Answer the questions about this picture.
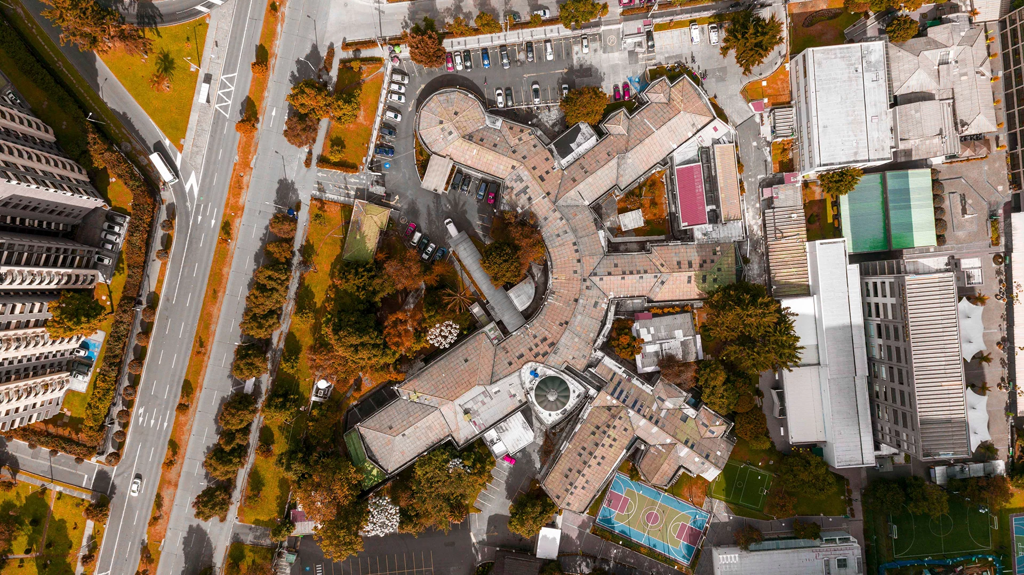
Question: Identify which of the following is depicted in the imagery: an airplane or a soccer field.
soccer field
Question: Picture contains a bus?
Yes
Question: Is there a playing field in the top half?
No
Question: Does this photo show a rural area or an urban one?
urban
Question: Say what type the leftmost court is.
basketball court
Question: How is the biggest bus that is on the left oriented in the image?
diagonally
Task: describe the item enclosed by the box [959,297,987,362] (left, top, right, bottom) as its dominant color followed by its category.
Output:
white tent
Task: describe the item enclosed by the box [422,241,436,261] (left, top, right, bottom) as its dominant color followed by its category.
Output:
gray car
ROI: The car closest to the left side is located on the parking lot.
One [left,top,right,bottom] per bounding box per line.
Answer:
[5,92,23,108]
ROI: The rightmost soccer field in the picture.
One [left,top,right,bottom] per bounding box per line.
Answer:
[891,479,1013,573]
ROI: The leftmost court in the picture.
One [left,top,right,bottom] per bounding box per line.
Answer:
[594,473,711,567]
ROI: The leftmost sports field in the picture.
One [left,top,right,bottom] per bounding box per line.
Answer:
[709,460,774,513]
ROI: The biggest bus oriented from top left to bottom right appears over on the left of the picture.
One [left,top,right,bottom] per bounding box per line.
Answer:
[149,150,183,189]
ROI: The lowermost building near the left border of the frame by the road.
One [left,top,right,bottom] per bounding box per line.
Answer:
[0,229,104,430]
